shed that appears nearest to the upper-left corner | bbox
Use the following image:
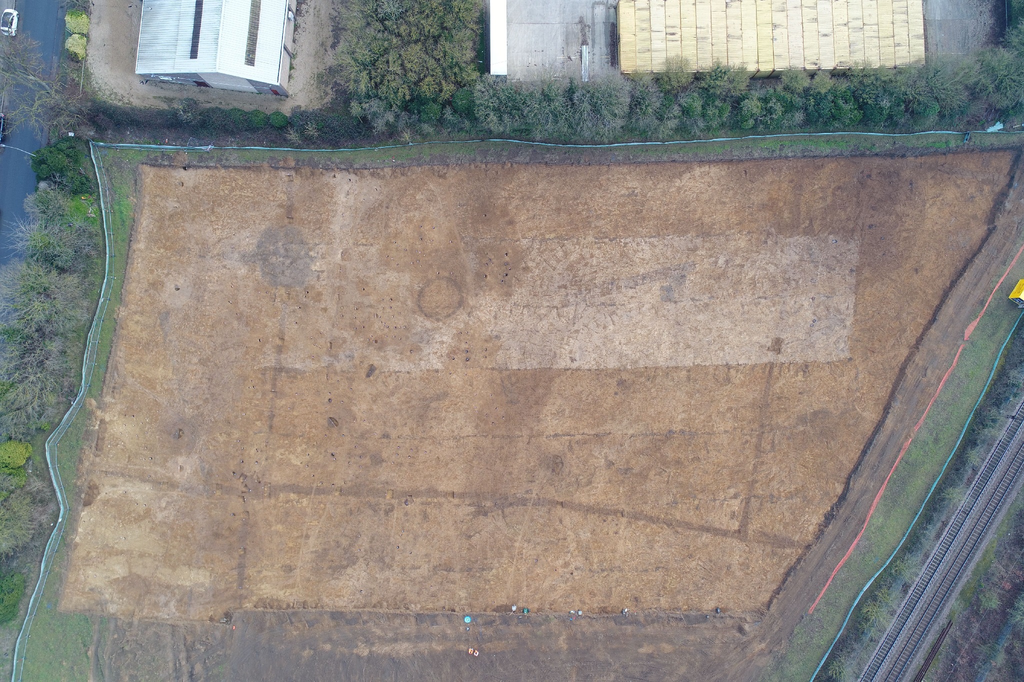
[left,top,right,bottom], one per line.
[133,0,299,97]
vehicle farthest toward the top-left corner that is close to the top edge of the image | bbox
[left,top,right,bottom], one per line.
[3,9,20,36]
